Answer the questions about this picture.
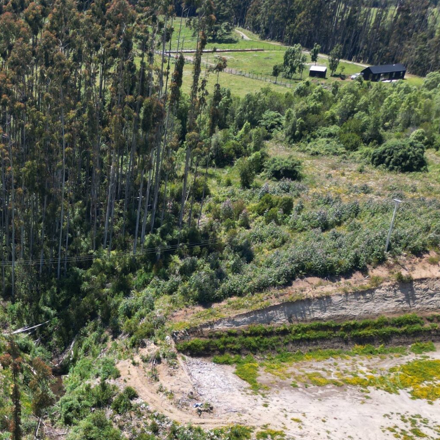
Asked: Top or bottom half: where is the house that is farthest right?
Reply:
top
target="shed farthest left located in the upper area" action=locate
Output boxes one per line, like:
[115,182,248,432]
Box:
[305,61,327,77]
